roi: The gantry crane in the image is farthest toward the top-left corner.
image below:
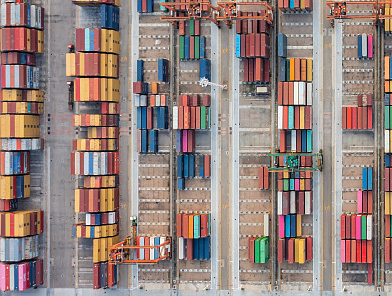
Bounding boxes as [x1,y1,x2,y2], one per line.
[159,0,220,28]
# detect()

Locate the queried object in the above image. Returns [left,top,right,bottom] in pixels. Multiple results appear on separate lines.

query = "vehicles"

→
[66,45,74,55]
[65,81,73,109]
[130,217,137,244]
